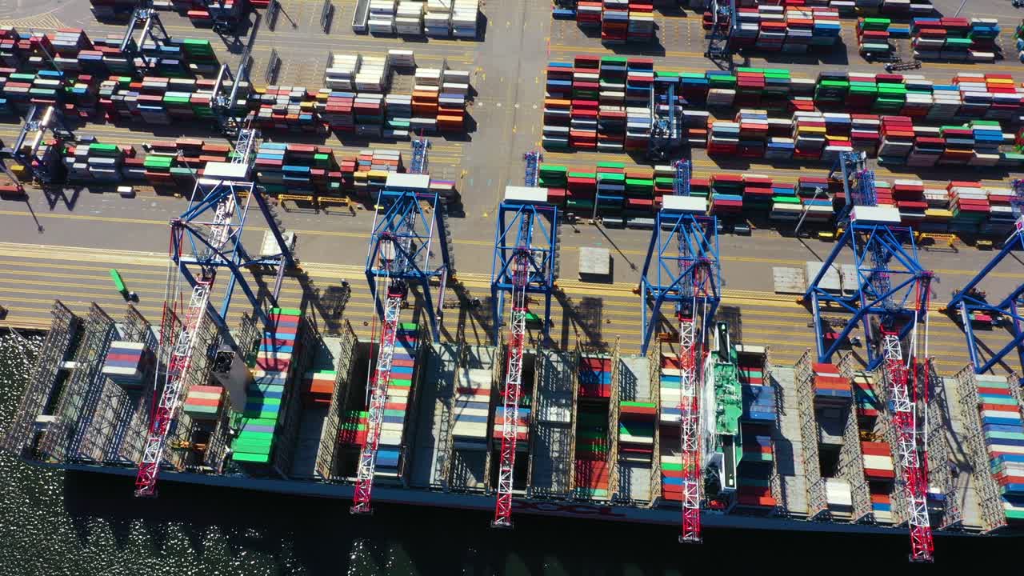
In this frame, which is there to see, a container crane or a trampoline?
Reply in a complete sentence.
Looking from above, you can make out a container crane.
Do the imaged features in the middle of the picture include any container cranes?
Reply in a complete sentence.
Yes, in the middle of the picture there is a container crane.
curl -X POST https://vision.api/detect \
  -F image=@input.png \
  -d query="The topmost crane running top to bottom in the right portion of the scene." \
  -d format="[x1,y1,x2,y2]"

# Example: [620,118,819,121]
[701,0,735,64]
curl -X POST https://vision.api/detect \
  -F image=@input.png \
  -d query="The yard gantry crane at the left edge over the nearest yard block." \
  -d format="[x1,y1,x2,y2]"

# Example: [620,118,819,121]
[14,108,81,188]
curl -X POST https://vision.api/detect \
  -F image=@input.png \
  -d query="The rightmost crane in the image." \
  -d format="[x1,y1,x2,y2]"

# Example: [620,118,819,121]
[937,178,1024,381]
